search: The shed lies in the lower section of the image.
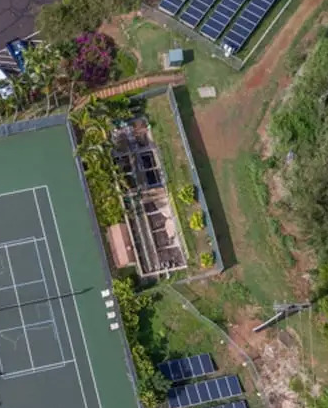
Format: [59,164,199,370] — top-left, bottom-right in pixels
[106,224,135,269]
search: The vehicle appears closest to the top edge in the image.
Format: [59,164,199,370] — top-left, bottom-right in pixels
[4,33,31,73]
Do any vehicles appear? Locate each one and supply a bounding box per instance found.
[0,70,13,100]
[4,33,31,73]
